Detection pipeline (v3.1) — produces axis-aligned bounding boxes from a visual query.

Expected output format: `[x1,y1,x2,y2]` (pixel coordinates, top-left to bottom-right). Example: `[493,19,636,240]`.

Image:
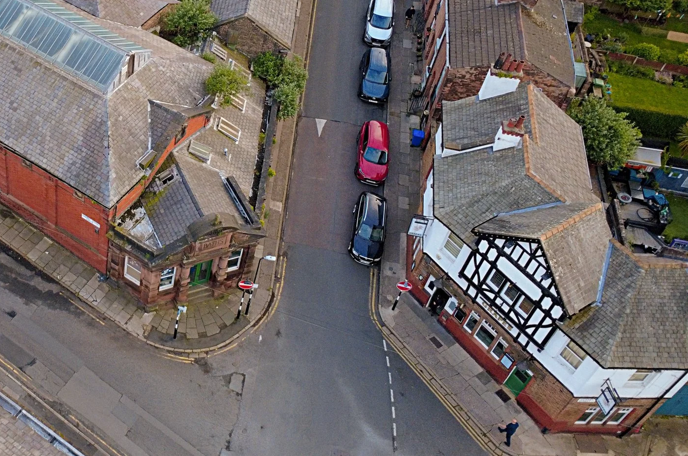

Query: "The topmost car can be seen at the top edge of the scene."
[363,0,397,45]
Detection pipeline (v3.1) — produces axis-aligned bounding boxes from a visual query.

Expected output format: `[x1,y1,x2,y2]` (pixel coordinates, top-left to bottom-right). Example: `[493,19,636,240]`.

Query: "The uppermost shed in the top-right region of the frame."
[563,2,583,44]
